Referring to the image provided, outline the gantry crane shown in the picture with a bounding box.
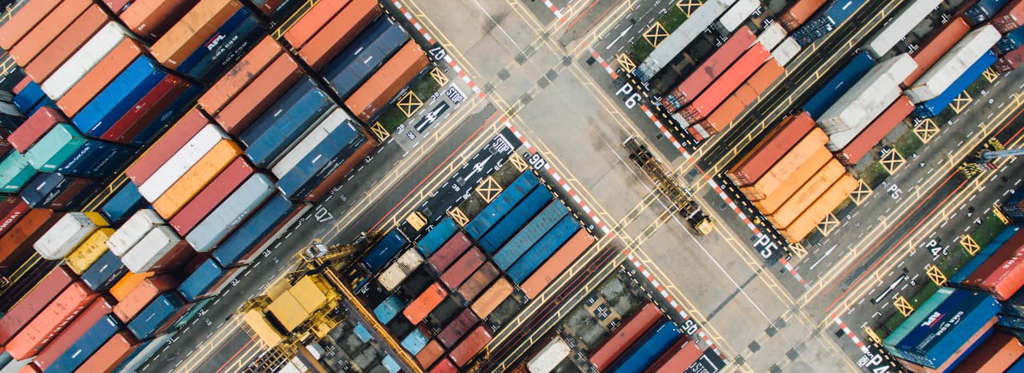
[237,227,484,373]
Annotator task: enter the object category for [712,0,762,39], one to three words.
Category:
shipping container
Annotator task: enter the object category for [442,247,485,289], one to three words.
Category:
shipping container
